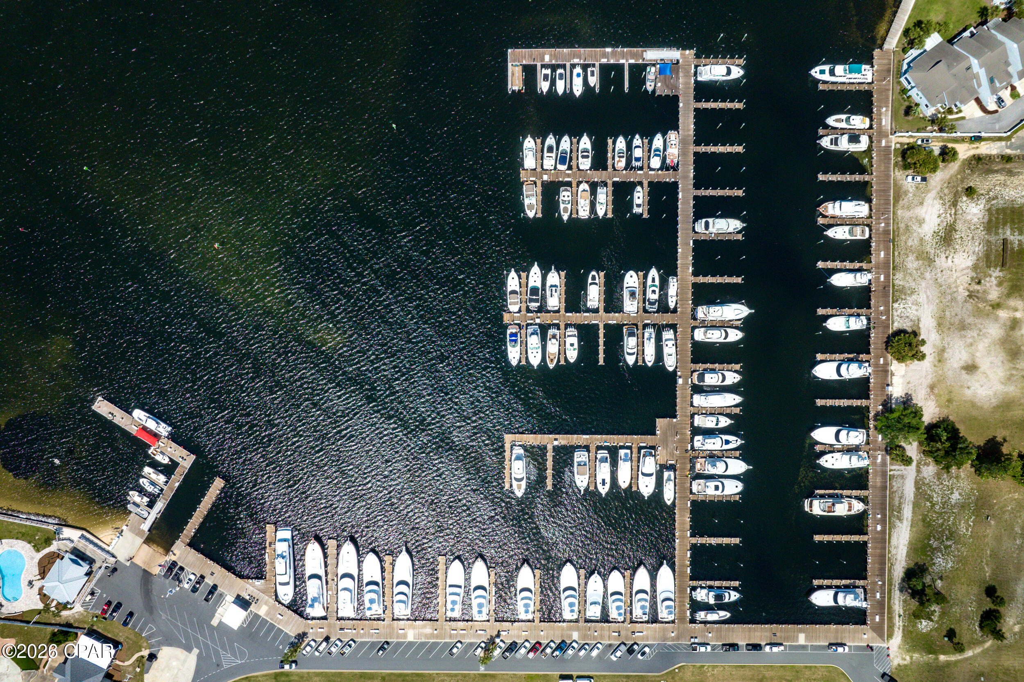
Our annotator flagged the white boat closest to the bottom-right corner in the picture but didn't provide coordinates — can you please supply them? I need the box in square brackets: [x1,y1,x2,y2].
[809,588,887,616]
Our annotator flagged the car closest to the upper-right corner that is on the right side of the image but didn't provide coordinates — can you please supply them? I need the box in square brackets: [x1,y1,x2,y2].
[993,94,1005,109]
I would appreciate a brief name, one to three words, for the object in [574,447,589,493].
boat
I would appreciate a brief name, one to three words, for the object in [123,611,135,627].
vehicle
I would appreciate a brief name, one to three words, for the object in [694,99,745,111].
pier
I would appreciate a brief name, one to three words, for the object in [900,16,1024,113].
building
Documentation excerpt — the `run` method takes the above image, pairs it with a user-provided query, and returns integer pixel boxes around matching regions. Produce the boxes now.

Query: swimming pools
[0,548,26,603]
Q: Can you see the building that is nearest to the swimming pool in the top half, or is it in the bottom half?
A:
bottom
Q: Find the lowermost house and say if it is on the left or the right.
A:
left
